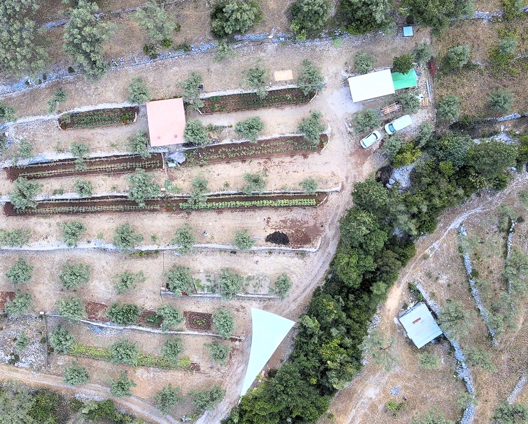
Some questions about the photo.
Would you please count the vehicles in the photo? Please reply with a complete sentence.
In total, 2 vehicles can be seen.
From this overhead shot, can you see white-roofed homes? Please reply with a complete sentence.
Yes, this view includes a white-roofed home.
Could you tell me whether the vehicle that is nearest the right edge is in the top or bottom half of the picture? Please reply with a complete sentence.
It is in the top half that the vehicle that is nearest the right edge appears.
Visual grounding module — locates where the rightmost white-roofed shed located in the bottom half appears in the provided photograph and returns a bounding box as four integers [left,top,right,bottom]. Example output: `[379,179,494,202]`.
[397,302,442,348]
